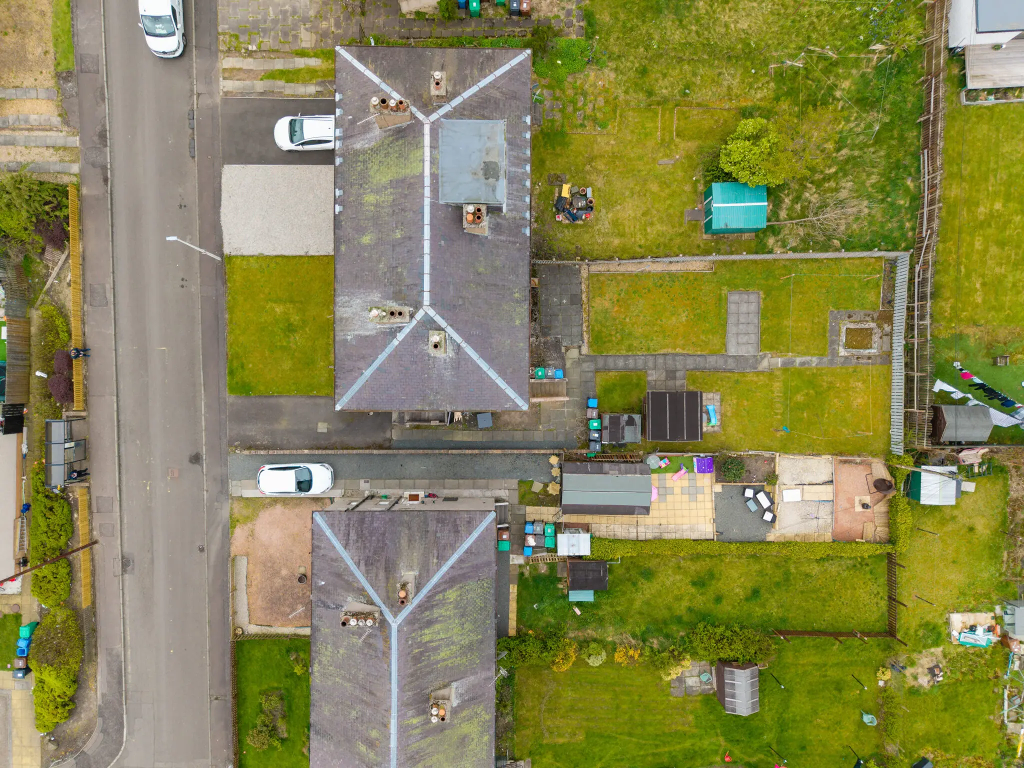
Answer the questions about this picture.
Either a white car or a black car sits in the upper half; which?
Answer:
white car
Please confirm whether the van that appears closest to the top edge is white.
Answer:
Yes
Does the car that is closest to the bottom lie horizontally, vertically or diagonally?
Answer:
horizontally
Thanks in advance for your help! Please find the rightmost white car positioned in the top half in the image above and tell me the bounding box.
[272,116,333,155]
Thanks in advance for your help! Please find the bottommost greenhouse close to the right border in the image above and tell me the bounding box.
[993,598,1024,634]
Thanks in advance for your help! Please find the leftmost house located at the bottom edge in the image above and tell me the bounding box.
[309,487,497,768]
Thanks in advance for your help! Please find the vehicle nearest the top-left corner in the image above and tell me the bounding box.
[143,0,188,62]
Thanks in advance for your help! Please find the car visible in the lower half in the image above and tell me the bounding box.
[257,461,335,499]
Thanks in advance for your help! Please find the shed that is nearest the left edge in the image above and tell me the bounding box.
[0,403,35,433]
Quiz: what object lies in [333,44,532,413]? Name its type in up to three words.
house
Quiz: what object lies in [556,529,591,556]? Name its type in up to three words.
shed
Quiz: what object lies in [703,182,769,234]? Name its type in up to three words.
shed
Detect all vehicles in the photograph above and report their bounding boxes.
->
[257,461,335,499]
[272,116,333,155]
[143,0,188,62]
